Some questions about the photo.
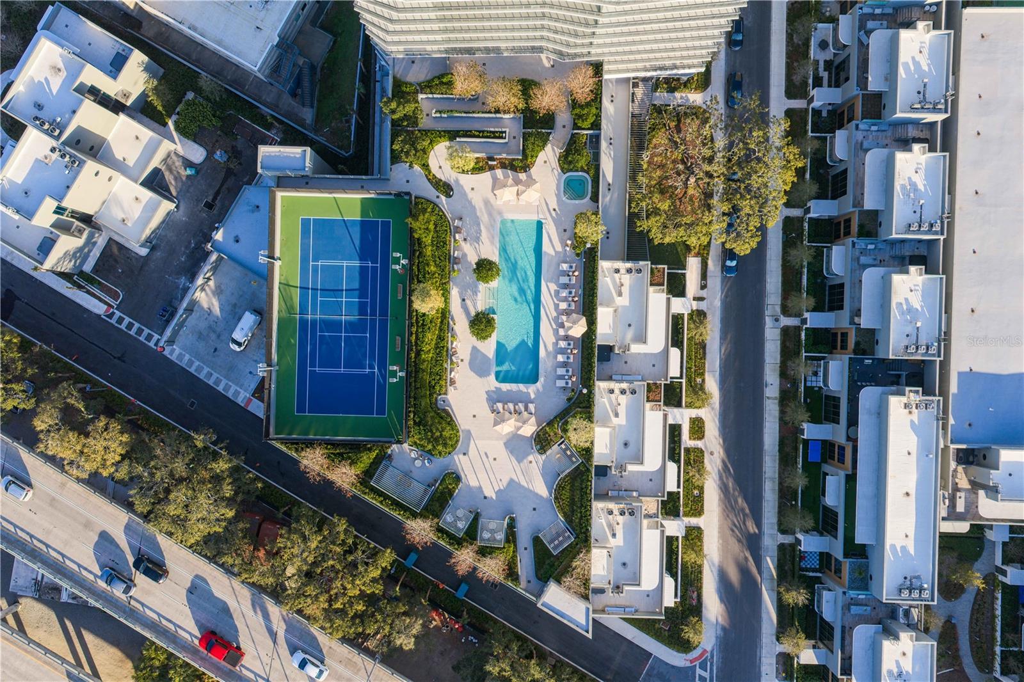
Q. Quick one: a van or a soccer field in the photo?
van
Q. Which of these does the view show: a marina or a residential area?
residential area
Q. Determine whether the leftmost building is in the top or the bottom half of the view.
top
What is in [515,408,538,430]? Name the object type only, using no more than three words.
umbrella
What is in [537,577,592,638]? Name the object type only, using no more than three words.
building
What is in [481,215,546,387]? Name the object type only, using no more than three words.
swimming pool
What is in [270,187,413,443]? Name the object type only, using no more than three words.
tennis court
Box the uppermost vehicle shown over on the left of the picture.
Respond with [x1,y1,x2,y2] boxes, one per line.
[229,308,262,352]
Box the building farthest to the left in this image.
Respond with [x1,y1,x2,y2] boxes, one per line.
[0,3,181,270]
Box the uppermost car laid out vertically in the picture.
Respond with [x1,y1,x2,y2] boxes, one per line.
[727,14,746,52]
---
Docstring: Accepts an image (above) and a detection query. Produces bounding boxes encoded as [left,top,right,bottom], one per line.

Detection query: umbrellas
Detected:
[494,175,516,199]
[563,312,584,336]
[494,404,515,428]
[518,177,541,199]
[515,408,538,430]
